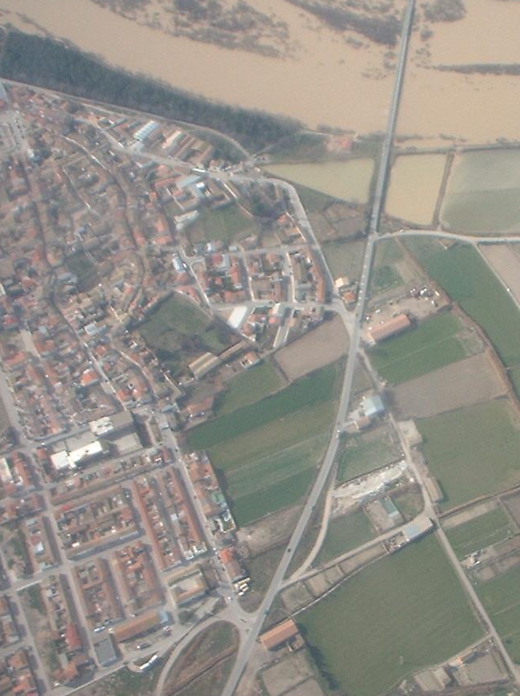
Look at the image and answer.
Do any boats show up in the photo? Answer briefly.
No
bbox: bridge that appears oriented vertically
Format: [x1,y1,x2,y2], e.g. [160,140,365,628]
[388,0,415,138]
